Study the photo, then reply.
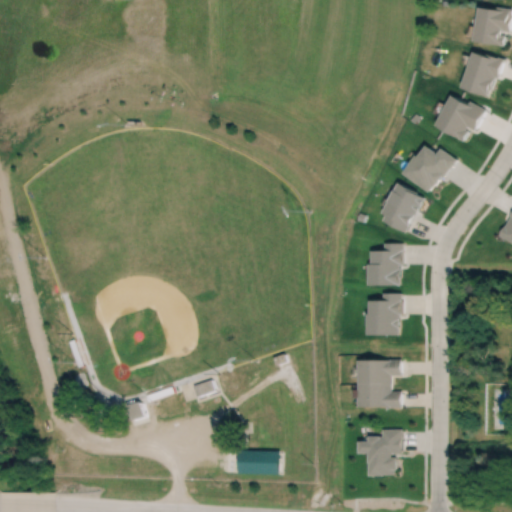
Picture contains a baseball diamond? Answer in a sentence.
Yes, the picture does show a baseball diamond.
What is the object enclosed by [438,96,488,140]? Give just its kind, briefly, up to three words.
house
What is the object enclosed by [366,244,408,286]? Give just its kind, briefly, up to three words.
house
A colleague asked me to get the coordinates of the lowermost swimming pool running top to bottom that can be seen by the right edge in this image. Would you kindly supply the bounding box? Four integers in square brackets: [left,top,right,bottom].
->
[496,390,510,430]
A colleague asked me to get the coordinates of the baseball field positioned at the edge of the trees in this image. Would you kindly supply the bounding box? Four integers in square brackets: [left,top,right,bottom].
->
[26,128,312,404]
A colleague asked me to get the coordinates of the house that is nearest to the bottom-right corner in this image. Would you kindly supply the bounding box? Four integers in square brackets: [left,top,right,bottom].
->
[357,428,406,476]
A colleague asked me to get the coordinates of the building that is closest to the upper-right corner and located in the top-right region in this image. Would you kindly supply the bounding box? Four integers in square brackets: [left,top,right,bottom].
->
[472,6,512,48]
